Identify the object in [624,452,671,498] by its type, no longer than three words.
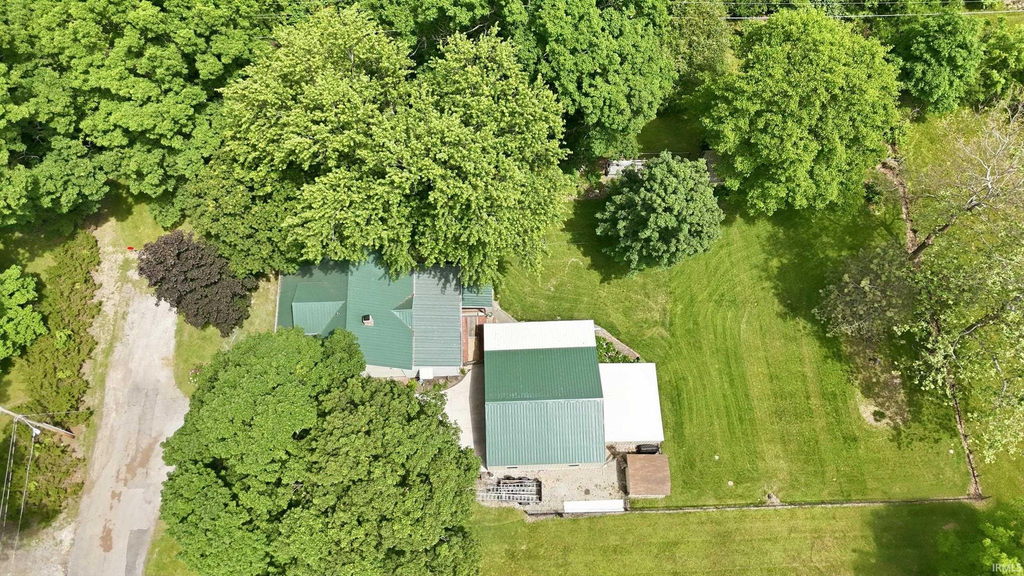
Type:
shed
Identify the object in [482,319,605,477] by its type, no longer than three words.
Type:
building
